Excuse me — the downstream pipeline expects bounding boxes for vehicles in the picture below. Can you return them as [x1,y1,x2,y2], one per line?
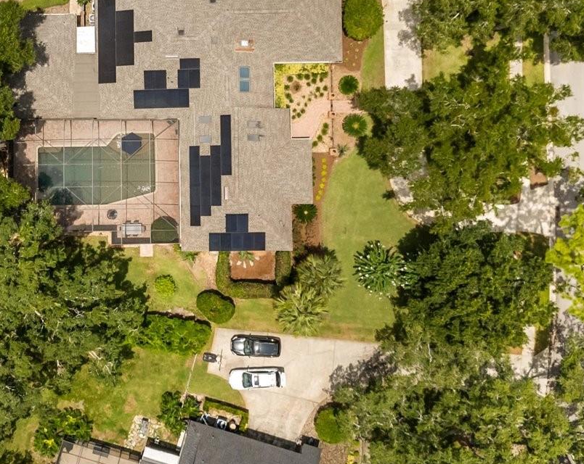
[231,368,283,391]
[231,335,281,358]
